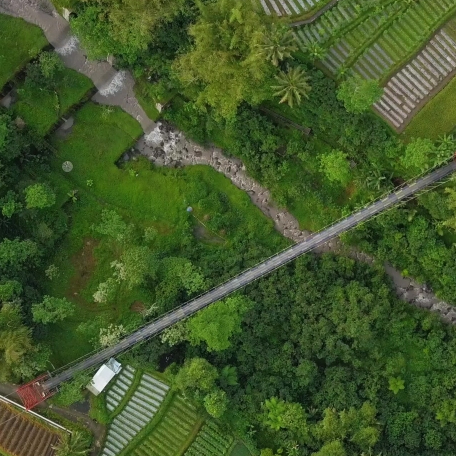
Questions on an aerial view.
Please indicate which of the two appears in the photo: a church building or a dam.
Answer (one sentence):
This aerial view contains a dam.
